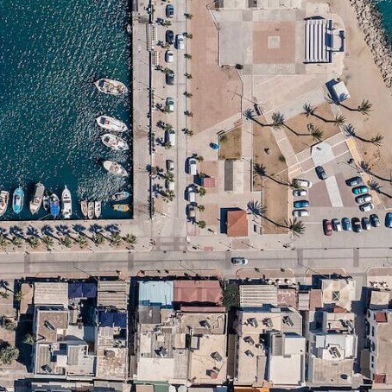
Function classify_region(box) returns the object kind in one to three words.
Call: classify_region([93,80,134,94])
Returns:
boat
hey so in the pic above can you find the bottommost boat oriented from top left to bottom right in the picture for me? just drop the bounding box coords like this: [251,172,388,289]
[103,161,130,180]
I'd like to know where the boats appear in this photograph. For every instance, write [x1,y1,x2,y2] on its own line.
[86,200,93,219]
[111,191,129,200]
[59,187,72,220]
[94,199,100,218]
[42,194,49,212]
[12,187,24,214]
[99,135,127,151]
[111,204,129,211]
[94,117,127,132]
[0,191,8,215]
[29,183,44,215]
[49,193,58,218]
[81,200,87,218]
[93,80,134,94]
[103,161,130,180]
